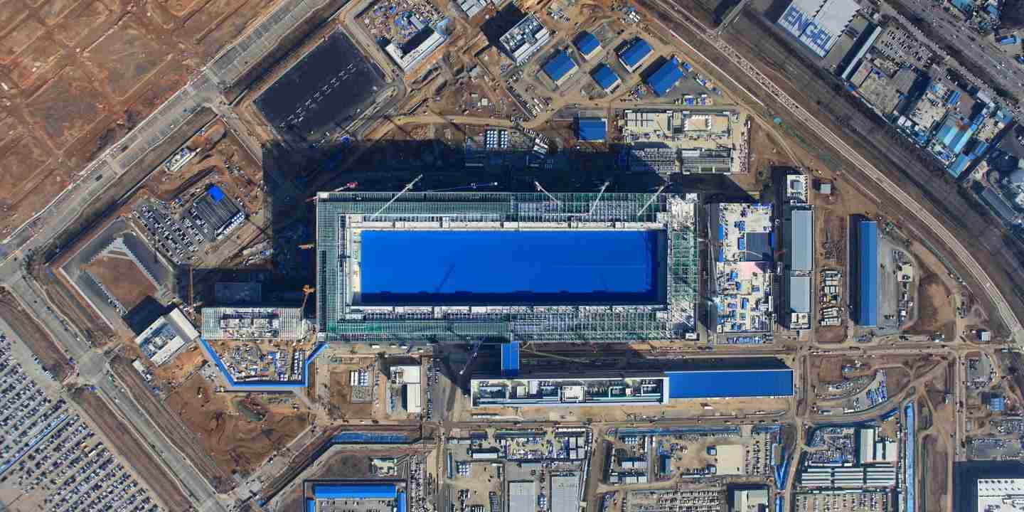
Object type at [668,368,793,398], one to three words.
building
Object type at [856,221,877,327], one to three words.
shed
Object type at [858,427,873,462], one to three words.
shed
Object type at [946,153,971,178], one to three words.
building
